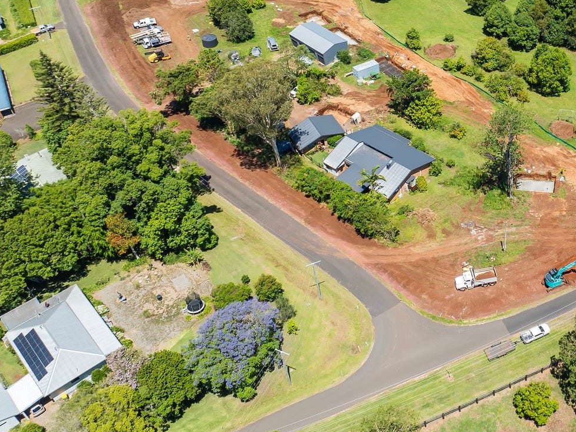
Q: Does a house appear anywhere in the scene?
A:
Yes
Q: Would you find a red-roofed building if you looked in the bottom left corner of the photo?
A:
No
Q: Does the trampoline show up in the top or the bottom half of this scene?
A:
bottom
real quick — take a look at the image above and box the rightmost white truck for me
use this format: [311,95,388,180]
[521,321,553,343]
